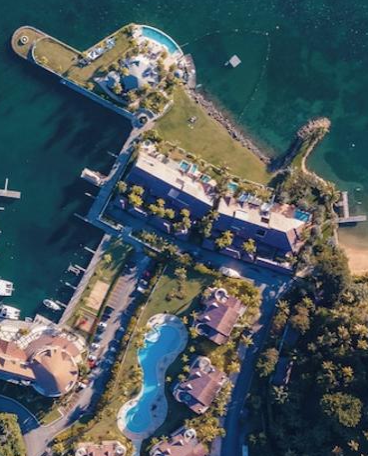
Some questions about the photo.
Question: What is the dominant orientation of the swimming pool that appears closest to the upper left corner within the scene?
at an angle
